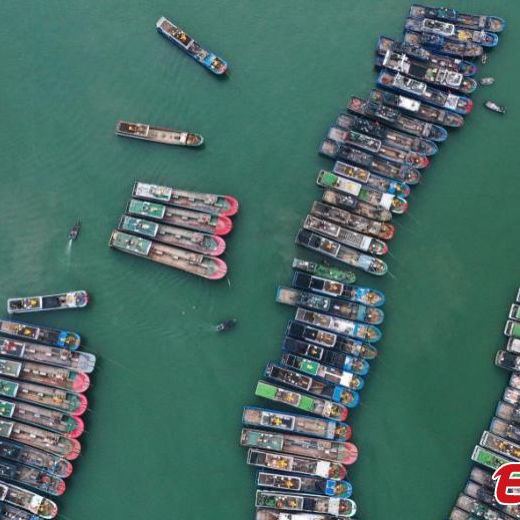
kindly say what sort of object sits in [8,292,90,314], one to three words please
boat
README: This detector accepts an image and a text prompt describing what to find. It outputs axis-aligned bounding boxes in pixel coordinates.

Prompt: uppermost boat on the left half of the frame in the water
[155,18,228,75]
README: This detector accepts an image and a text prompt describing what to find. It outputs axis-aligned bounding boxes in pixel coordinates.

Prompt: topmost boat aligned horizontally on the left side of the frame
[114,123,204,149]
